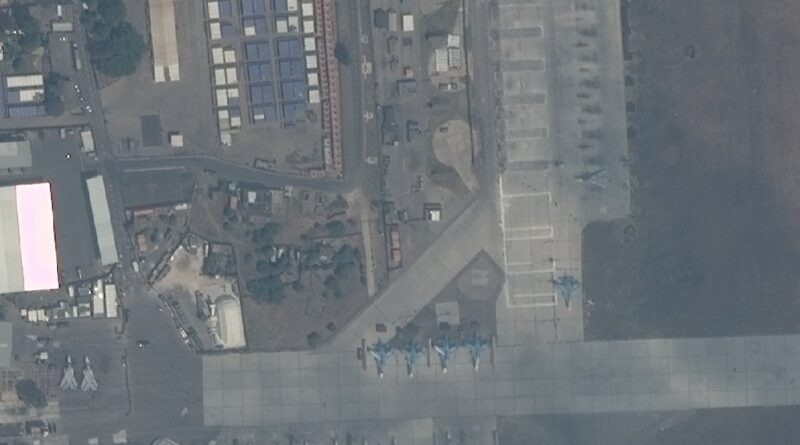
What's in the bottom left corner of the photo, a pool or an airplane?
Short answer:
airplane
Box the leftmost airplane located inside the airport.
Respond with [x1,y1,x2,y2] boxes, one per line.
[368,339,393,377]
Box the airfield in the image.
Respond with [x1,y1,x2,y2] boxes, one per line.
[203,0,800,445]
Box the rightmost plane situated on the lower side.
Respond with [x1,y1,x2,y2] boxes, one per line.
[555,271,580,310]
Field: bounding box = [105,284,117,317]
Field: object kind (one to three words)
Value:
shed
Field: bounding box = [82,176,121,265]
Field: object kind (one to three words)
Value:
building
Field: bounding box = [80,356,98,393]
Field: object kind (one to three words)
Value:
airplane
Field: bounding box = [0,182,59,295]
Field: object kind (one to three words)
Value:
hangar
